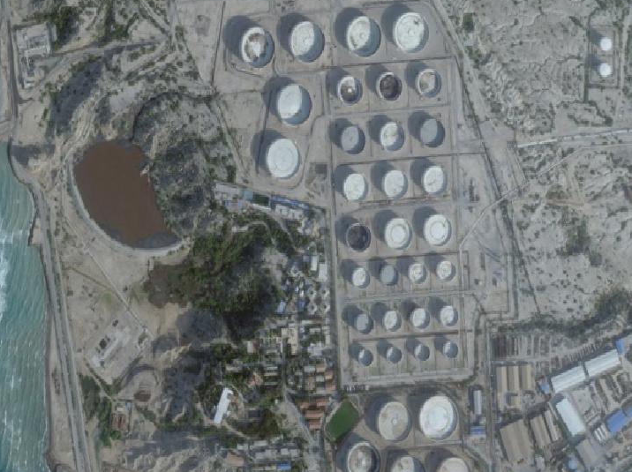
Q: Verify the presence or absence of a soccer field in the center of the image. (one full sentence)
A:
No, the scene shows no soccer field in the center of the image.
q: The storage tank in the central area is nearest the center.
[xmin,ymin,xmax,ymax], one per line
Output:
[341,221,371,254]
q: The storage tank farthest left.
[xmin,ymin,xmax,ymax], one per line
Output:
[235,26,276,69]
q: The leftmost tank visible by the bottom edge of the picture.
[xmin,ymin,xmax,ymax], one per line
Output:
[341,440,382,472]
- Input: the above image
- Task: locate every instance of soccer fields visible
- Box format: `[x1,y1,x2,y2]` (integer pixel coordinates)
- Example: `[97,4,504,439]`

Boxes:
[325,398,360,442]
